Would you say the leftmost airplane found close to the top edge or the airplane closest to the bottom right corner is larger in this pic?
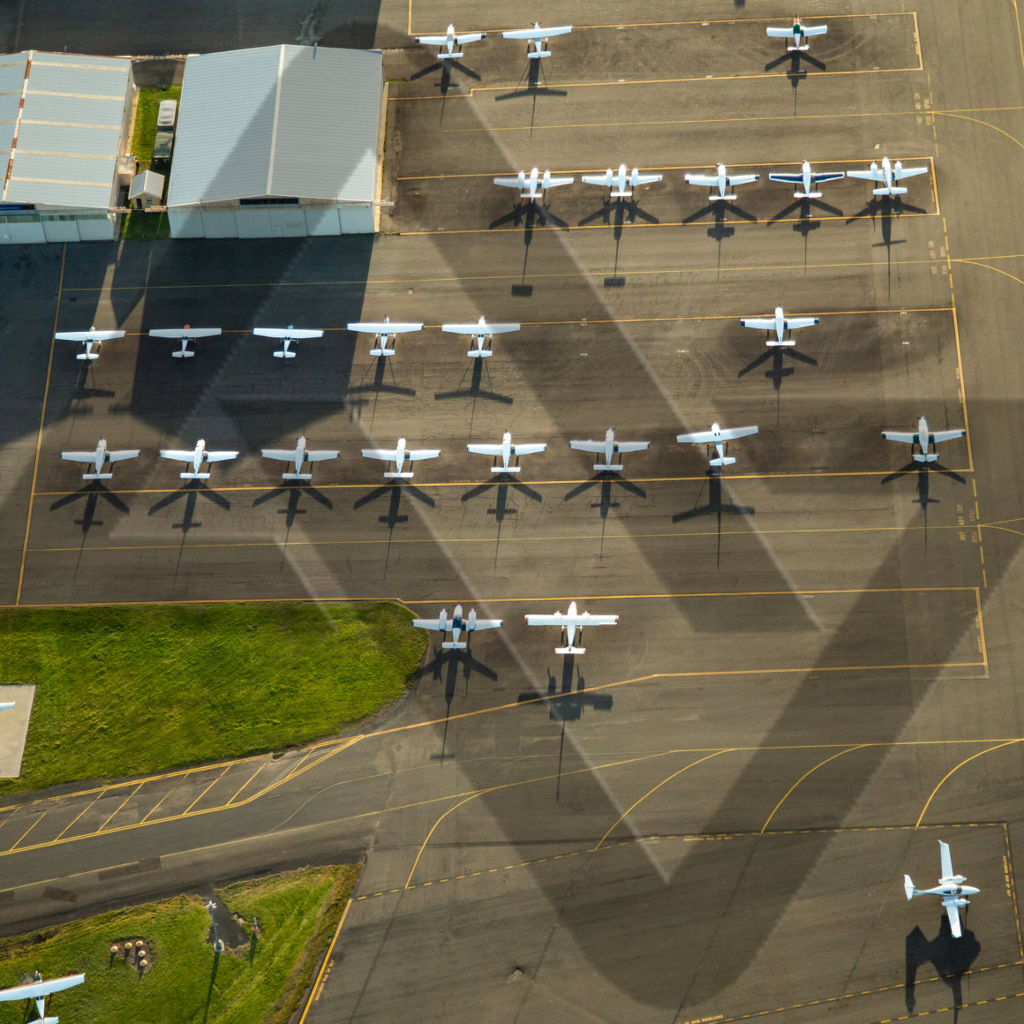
the airplane closest to the bottom right corner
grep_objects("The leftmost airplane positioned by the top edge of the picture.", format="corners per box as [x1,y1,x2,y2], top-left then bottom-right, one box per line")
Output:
[415,23,486,58]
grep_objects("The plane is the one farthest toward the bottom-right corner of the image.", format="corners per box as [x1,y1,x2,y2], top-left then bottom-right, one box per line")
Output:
[910,839,982,936]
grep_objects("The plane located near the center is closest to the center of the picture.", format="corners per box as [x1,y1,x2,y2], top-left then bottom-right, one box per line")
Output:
[468,428,546,473]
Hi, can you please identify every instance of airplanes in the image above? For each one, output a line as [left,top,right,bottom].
[361,434,440,478]
[525,601,618,654]
[766,18,827,48]
[254,322,324,359]
[582,164,662,202]
[847,156,928,196]
[685,162,760,200]
[442,316,520,356]
[0,703,15,713]
[910,839,982,936]
[415,23,486,58]
[570,426,649,470]
[61,434,140,479]
[0,969,85,1024]
[494,167,574,205]
[882,415,966,461]
[149,320,222,359]
[160,435,239,479]
[740,303,819,345]
[769,160,845,197]
[261,434,339,478]
[468,428,546,473]
[502,24,572,56]
[55,325,125,361]
[412,605,502,653]
[676,422,759,465]
[347,314,423,355]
